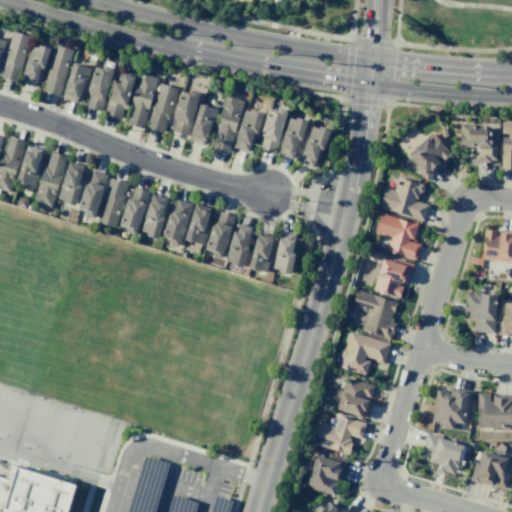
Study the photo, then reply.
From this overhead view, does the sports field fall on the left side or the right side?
left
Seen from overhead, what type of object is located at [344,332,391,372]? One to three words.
house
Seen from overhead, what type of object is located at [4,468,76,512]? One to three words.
building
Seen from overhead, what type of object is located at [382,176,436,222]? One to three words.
house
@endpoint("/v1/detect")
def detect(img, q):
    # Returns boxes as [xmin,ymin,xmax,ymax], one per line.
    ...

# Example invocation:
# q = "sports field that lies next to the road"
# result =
[0,203,296,461]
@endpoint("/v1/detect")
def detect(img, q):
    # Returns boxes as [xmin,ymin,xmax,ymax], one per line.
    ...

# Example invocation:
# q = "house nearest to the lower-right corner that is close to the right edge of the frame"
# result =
[468,450,512,493]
